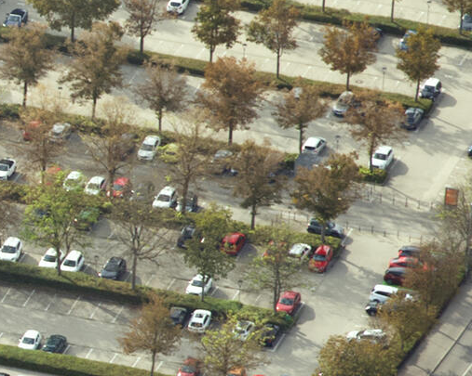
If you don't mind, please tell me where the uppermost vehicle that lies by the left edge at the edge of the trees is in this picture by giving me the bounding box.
[3,5,29,29]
